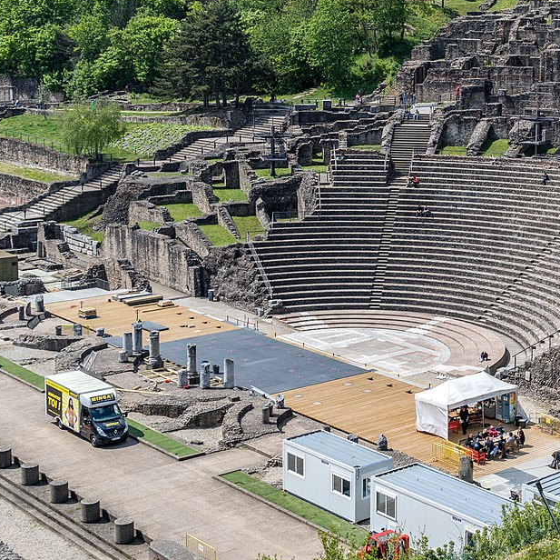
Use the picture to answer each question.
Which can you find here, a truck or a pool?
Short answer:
truck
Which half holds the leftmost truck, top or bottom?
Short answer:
bottom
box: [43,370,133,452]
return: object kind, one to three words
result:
truck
